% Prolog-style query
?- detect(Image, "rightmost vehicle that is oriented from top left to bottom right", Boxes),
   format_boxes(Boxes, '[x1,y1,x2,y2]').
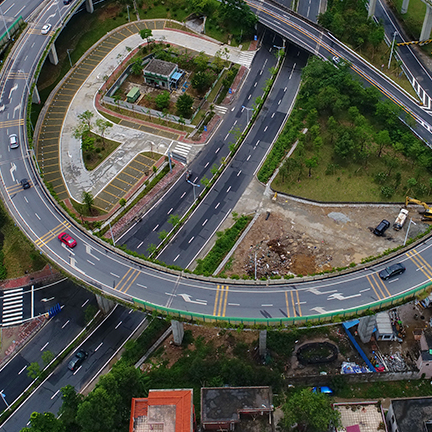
[404,199,432,220]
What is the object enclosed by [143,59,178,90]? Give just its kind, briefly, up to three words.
house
